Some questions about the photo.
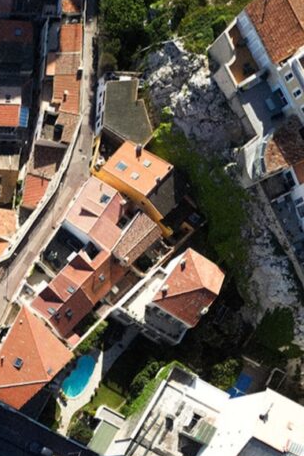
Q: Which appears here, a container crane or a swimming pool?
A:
swimming pool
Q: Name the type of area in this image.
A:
residential area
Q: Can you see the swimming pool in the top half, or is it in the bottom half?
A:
bottom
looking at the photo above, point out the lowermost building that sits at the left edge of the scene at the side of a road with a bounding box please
[0,305,73,418]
